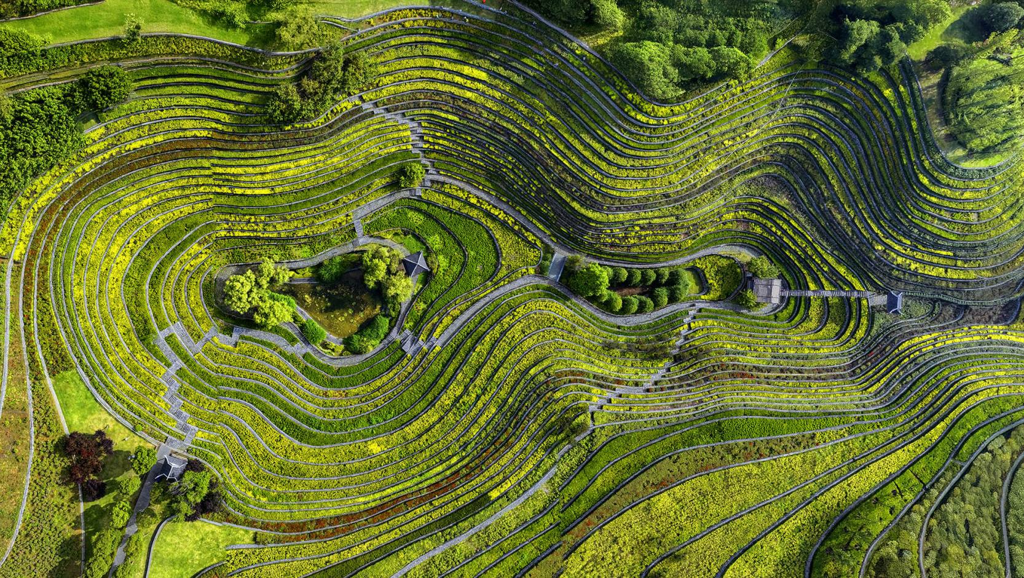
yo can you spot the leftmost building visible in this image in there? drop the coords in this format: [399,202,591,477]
[402,251,430,279]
